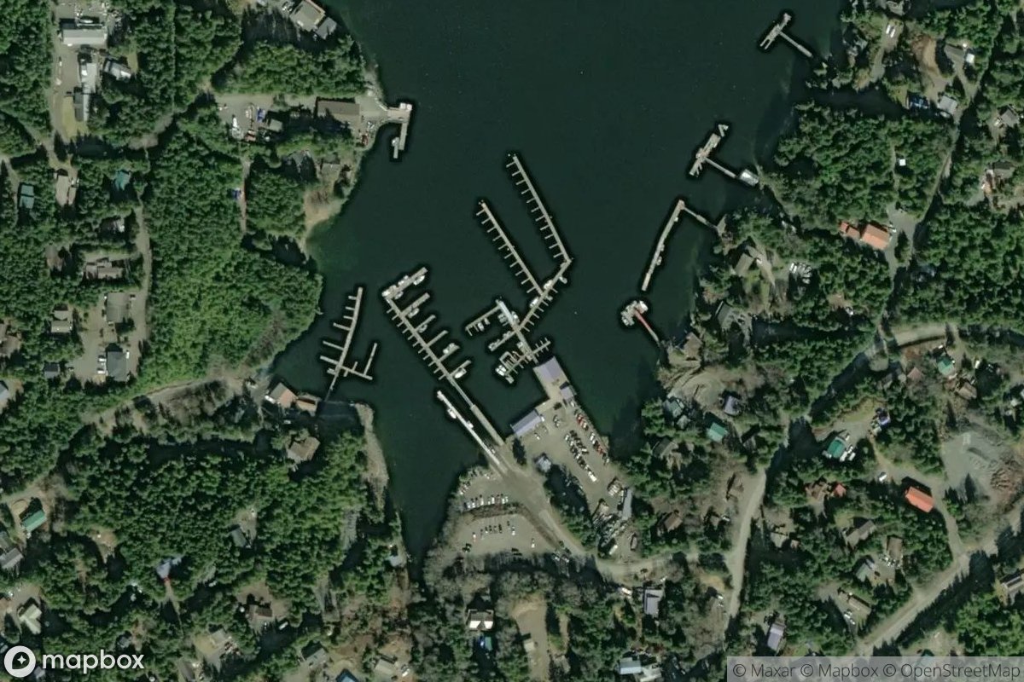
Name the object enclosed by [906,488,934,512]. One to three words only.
barn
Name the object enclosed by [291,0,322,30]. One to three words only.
house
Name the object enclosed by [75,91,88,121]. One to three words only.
building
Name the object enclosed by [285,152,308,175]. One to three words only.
house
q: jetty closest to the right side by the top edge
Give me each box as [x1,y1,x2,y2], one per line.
[760,15,813,57]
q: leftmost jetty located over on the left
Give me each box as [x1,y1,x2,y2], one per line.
[320,287,377,402]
